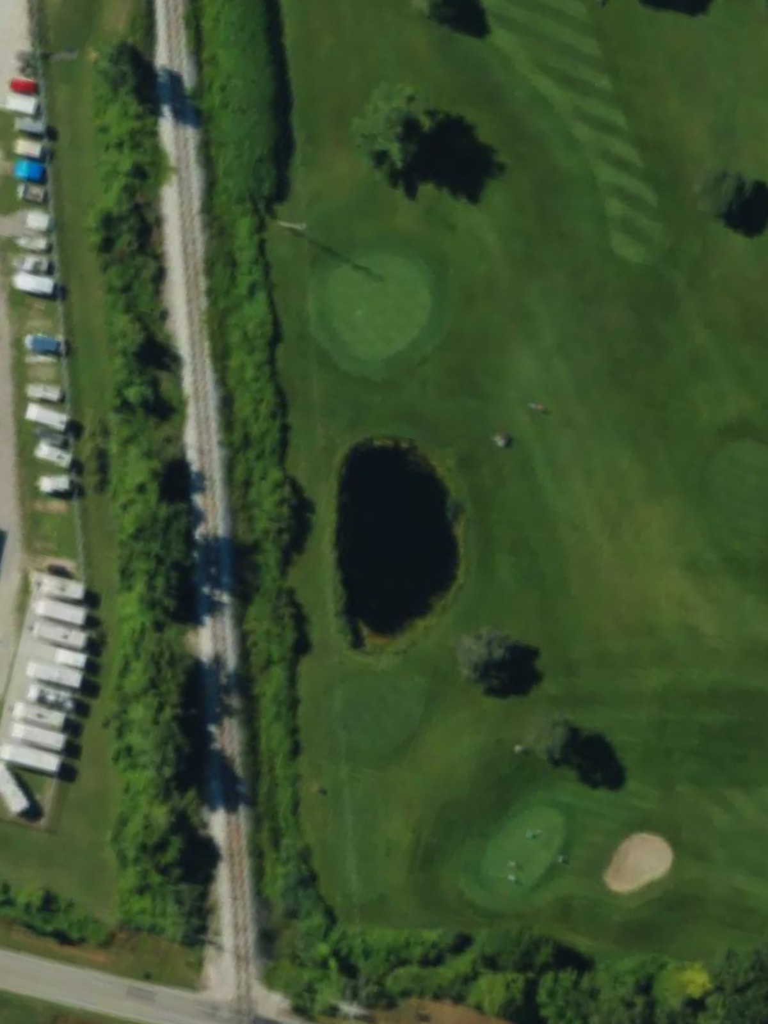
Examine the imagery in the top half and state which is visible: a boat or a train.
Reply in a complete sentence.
The feature located in the top half is a boat.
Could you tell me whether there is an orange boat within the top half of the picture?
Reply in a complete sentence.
No, no orange boat can be made out within the top half of the picture.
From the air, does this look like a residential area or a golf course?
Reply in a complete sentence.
The picture captures a golf course.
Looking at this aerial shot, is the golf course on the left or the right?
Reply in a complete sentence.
You can find the golf course on the right side of the picture.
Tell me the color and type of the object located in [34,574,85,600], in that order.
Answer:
white trailer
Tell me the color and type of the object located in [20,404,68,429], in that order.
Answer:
white trailer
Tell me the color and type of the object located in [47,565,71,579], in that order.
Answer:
black car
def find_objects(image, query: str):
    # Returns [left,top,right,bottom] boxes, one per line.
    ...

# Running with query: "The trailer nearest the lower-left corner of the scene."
[0,763,33,817]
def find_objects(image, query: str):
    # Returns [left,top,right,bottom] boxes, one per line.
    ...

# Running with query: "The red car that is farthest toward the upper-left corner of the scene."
[10,79,37,93]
